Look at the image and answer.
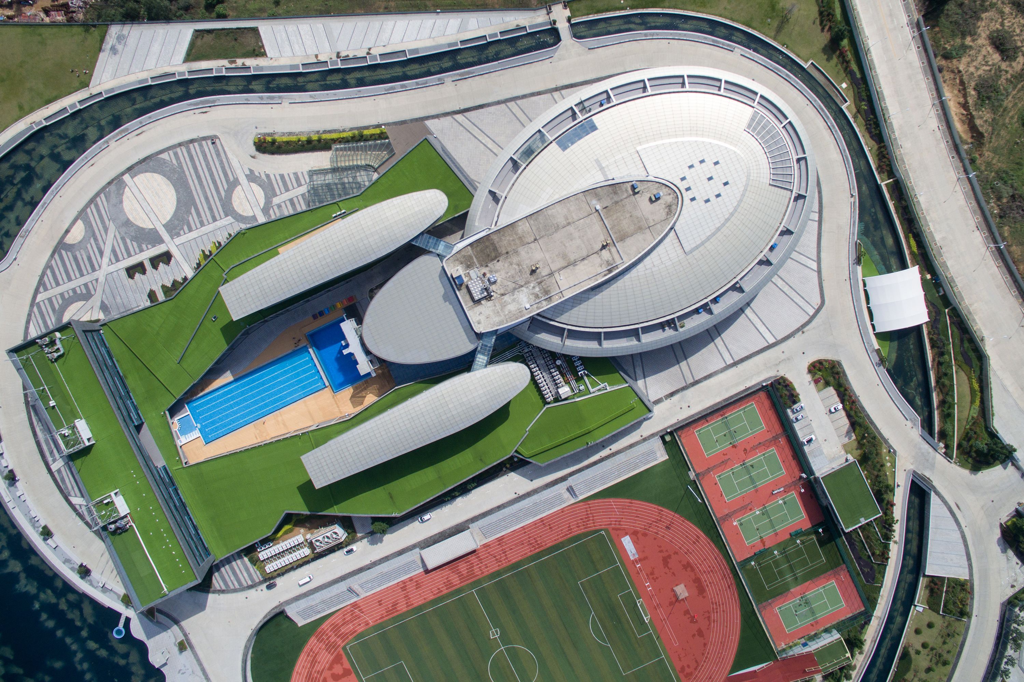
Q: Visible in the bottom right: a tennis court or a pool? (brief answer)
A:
tennis court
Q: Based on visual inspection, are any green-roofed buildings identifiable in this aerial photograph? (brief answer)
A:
Yes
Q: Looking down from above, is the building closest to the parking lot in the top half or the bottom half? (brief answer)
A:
bottom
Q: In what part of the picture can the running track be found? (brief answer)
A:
bottom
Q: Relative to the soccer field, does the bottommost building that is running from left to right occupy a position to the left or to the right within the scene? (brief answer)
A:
on its right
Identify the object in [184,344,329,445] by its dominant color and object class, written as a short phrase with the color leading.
blue swimming pool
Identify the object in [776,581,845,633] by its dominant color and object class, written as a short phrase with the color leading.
green tennis court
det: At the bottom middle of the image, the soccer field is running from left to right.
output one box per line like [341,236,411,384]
[343,528,674,682]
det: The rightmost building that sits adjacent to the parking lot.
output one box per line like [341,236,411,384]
[813,454,881,534]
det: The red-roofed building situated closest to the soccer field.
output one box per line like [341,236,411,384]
[719,629,853,682]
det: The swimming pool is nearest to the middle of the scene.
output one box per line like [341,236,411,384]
[305,315,376,395]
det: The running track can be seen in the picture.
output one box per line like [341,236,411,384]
[286,498,742,682]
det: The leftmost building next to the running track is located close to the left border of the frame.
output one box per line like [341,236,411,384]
[6,319,228,612]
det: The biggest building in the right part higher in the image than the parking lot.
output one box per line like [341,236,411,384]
[463,65,815,357]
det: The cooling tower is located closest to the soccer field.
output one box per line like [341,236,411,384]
[311,523,349,552]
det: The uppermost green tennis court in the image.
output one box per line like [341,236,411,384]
[694,402,765,457]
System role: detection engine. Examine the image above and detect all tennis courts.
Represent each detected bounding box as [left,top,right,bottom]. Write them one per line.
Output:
[776,581,845,633]
[756,537,825,590]
[735,492,805,546]
[694,402,765,457]
[715,448,785,502]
